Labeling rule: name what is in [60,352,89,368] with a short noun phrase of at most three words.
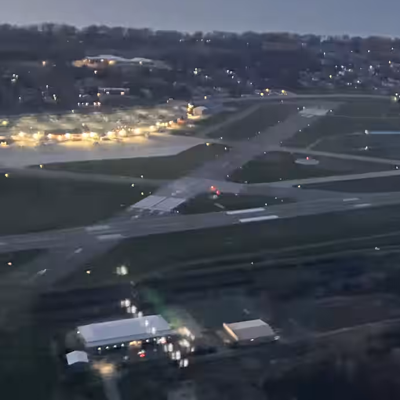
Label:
shed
